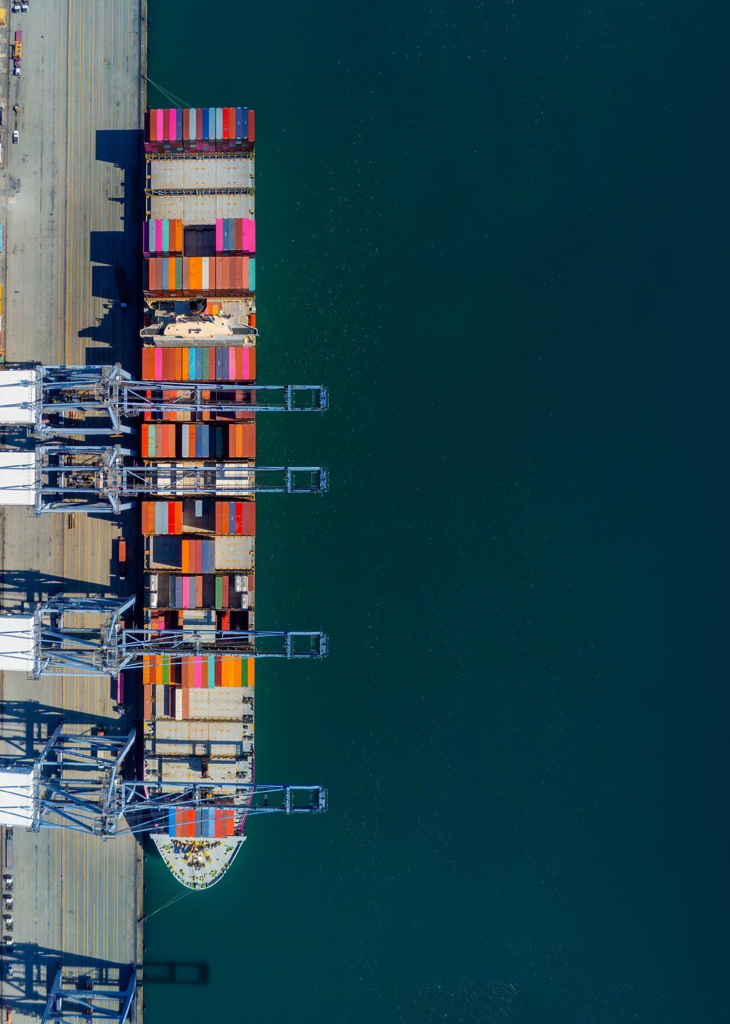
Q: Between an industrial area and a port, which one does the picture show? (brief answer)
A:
port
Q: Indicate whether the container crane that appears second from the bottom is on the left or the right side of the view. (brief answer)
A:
left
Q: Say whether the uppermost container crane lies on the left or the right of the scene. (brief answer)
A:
left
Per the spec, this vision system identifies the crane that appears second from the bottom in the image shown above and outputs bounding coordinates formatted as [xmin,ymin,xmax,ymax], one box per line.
[0,717,329,845]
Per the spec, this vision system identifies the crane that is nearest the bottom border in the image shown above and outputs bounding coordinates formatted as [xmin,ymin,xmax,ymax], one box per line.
[35,955,136,1024]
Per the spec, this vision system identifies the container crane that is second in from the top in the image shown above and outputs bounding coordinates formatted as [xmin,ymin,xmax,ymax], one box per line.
[0,443,326,521]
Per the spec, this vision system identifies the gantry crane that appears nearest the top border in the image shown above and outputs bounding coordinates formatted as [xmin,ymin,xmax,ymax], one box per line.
[0,364,328,445]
